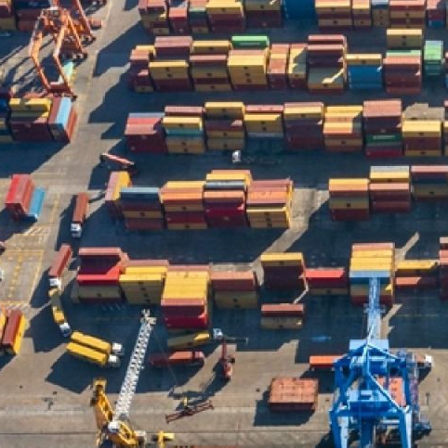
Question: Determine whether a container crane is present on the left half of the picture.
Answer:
Yes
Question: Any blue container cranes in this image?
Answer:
Yes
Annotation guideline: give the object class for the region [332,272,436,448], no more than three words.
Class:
container crane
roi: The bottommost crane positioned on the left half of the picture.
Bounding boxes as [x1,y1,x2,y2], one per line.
[87,311,186,448]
